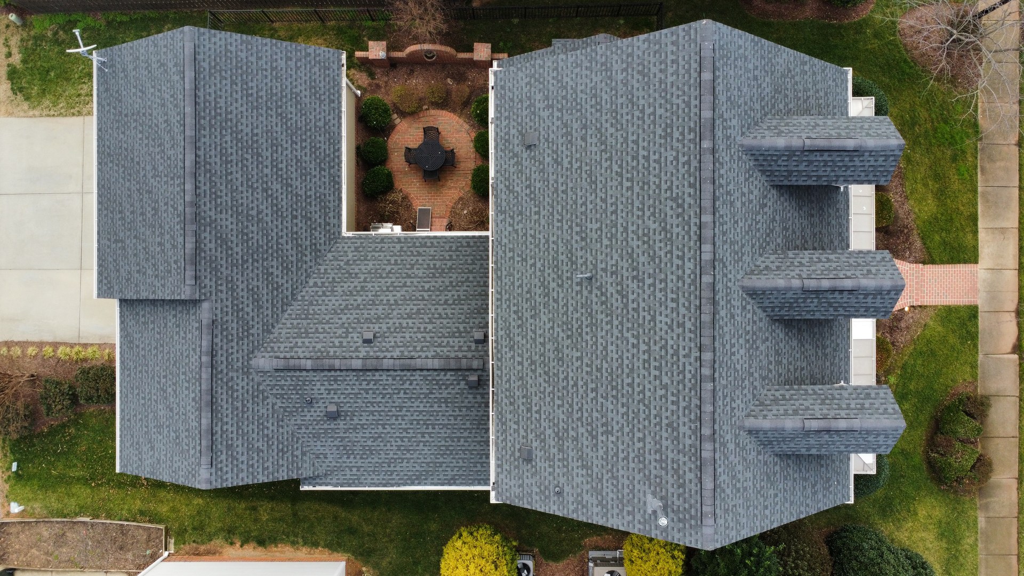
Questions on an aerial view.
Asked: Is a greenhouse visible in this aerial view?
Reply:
No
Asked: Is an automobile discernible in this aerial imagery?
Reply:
No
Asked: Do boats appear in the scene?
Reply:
No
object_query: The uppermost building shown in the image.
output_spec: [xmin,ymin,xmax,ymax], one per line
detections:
[93,21,905,550]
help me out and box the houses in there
[93,21,905,550]
[140,550,349,576]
